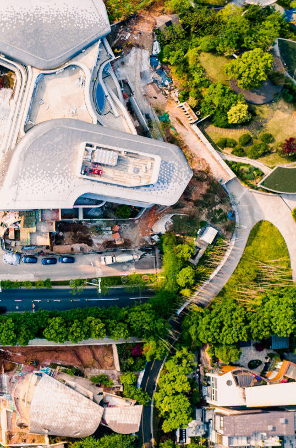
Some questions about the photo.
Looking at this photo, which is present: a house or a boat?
house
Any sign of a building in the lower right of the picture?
Yes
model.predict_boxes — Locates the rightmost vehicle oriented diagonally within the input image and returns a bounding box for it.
[113,40,133,54]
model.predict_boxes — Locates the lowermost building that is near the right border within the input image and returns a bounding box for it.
[204,404,295,447]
